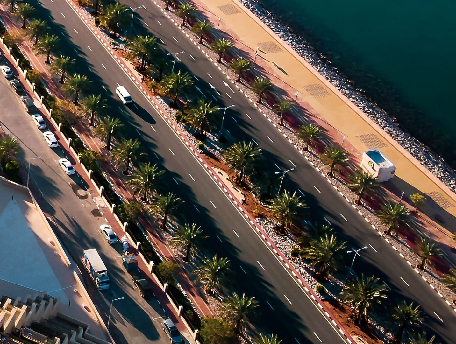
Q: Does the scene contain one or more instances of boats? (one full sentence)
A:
No, the photo shows no boat.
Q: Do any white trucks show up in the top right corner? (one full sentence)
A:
No, I see no white truck in the top right corner.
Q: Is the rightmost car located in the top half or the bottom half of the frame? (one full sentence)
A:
The rightmost car sits in the bottom half of the picture.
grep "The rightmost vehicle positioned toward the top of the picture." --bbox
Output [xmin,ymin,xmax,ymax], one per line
[116,84,134,105]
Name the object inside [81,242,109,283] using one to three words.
truck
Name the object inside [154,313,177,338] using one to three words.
car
